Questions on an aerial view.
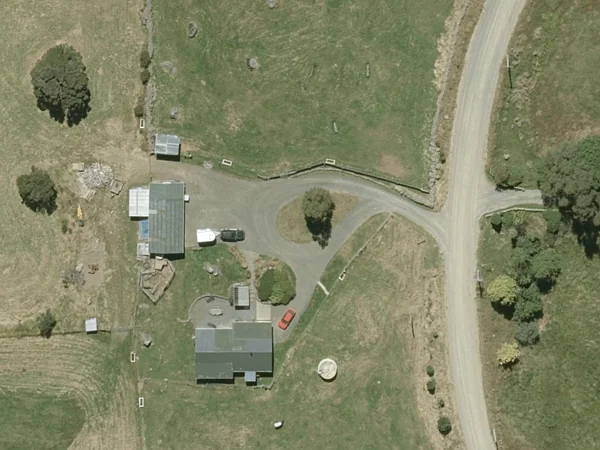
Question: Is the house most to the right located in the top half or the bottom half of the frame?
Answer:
bottom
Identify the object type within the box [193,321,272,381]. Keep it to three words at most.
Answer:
house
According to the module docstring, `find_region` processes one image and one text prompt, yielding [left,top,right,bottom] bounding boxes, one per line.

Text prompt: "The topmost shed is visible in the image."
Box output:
[156,132,180,156]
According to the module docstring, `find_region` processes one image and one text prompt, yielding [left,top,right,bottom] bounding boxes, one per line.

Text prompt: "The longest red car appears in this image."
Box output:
[279,308,296,329]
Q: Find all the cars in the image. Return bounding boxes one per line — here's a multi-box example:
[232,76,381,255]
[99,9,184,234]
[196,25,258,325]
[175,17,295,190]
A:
[220,230,245,241]
[279,308,296,329]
